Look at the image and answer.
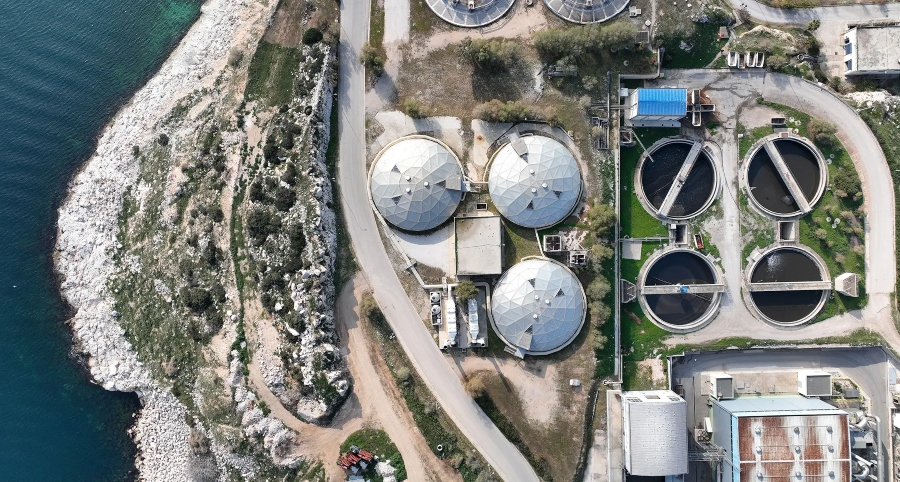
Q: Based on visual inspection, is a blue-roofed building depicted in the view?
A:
Yes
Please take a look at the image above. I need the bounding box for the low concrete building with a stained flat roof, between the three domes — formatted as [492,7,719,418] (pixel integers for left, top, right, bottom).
[456,218,502,275]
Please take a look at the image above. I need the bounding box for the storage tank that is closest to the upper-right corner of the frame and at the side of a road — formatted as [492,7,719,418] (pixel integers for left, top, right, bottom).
[740,134,828,221]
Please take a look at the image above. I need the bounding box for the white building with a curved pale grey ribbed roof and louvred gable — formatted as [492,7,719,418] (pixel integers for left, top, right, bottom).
[621,392,690,482]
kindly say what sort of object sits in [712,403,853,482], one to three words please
building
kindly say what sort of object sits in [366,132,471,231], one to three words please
storage tank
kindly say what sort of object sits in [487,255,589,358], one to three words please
storage tank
